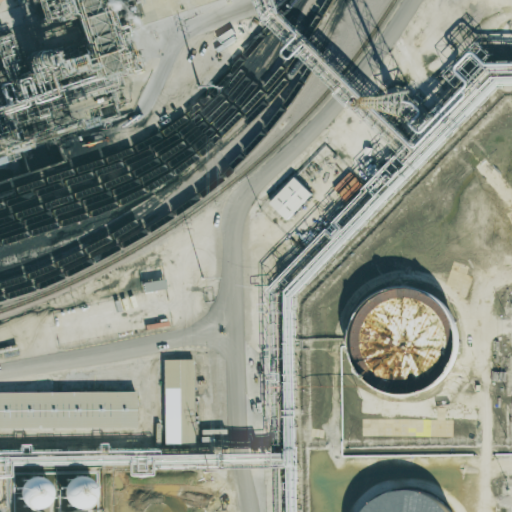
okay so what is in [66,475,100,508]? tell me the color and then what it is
white storage tank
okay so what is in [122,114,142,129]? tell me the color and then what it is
white vehicle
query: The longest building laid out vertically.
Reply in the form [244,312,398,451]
[164,360,197,443]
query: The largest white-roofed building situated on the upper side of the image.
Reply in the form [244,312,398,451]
[272,178,312,220]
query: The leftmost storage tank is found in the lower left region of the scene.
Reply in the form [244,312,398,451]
[21,475,56,508]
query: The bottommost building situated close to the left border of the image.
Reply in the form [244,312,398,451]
[0,390,140,434]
